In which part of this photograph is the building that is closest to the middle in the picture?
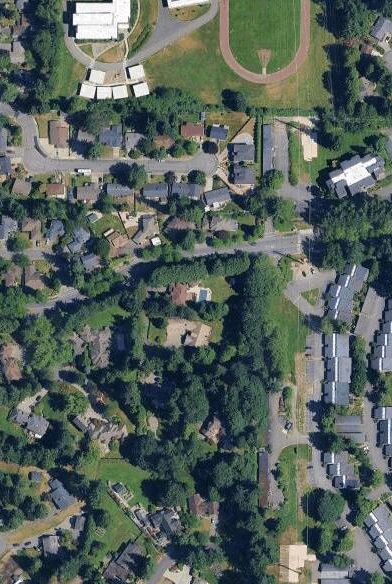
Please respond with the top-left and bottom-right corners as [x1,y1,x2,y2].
[170,282,196,306]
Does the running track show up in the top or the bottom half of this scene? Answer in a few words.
top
